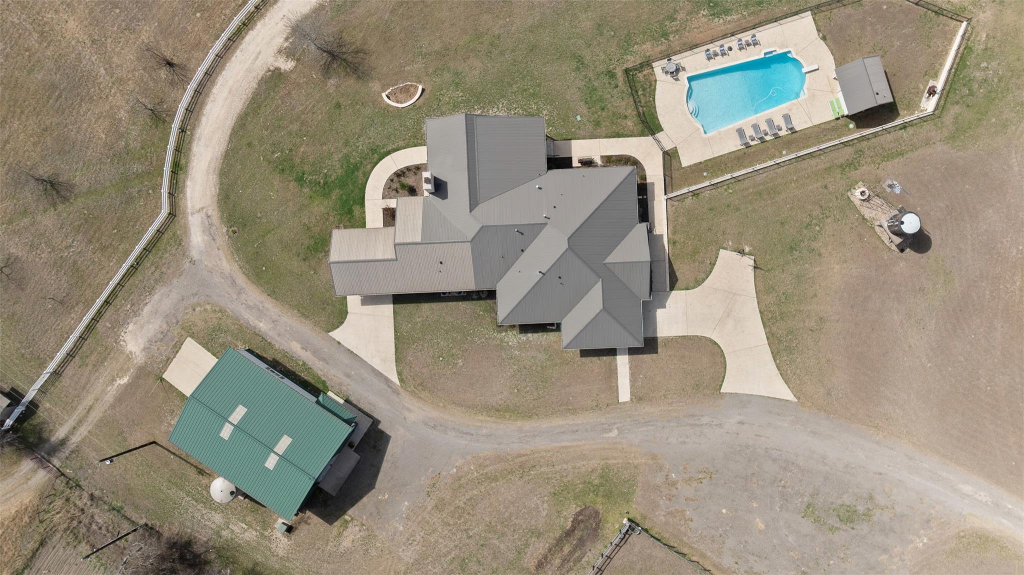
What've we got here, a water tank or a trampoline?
water tank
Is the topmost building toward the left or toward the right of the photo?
right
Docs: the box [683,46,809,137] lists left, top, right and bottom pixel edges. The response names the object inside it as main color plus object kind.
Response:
blue swimming pool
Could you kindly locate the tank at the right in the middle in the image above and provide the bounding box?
[870,206,922,251]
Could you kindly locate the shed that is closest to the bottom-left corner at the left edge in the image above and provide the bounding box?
[0,379,31,422]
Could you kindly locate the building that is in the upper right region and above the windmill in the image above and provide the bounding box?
[826,56,894,118]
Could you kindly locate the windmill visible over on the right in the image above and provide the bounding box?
[852,175,914,202]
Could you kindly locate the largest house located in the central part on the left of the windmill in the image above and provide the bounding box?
[327,113,652,351]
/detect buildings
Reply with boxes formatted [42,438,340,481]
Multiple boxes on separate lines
[0,379,31,422]
[327,113,652,351]
[167,345,357,523]
[826,56,894,118]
